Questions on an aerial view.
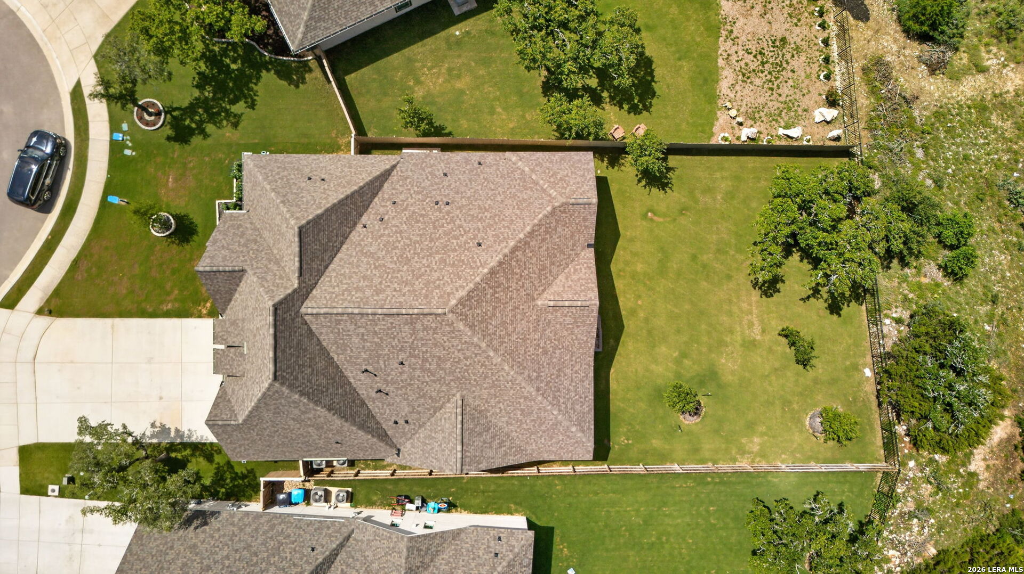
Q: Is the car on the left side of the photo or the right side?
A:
left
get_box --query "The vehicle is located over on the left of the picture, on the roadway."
[0,126,65,209]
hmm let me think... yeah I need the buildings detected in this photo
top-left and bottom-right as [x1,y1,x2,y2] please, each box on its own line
[269,0,453,56]
[117,499,534,574]
[194,150,599,474]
